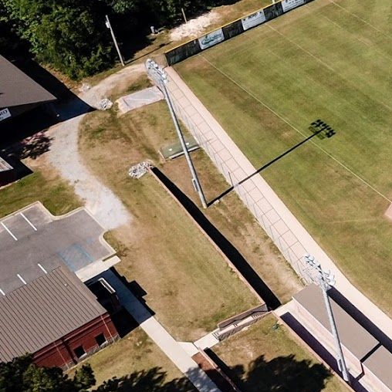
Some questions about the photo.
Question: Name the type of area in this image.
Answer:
sports ground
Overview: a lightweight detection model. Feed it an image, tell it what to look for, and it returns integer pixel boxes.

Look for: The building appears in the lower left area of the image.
[0,264,122,392]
